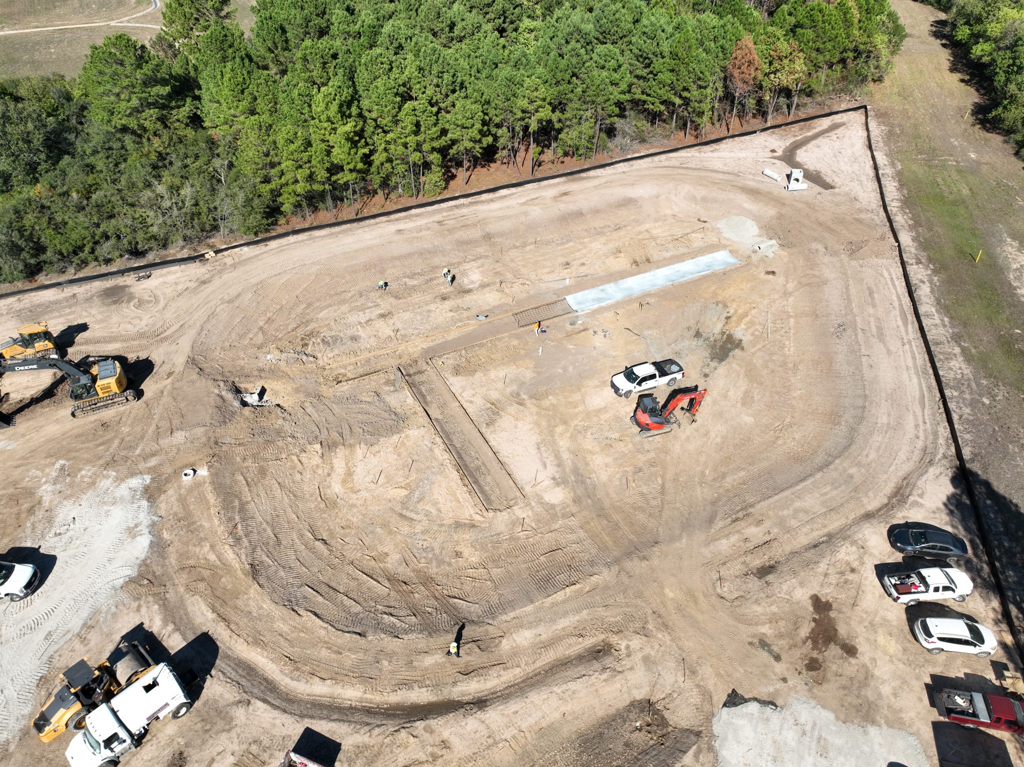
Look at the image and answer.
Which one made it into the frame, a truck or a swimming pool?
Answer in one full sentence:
The one in the frame is a truck.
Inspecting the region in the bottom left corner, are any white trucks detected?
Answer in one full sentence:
Yes, looking in the bottom left corner, one can make out a white truck.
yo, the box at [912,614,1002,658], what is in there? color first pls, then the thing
white car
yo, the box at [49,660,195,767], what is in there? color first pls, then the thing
white truck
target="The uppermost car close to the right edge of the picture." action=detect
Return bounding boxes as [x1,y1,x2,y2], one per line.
[891,524,973,563]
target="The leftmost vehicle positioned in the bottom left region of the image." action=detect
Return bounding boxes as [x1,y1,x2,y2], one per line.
[0,557,45,602]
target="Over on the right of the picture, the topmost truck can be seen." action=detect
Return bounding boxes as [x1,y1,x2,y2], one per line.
[606,356,686,399]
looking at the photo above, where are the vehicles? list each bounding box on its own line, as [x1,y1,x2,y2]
[49,660,195,767]
[891,524,973,563]
[0,353,141,432]
[0,557,45,602]
[883,562,979,606]
[0,314,72,368]
[933,683,1024,735]
[606,356,686,399]
[633,382,711,437]
[912,614,1002,658]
